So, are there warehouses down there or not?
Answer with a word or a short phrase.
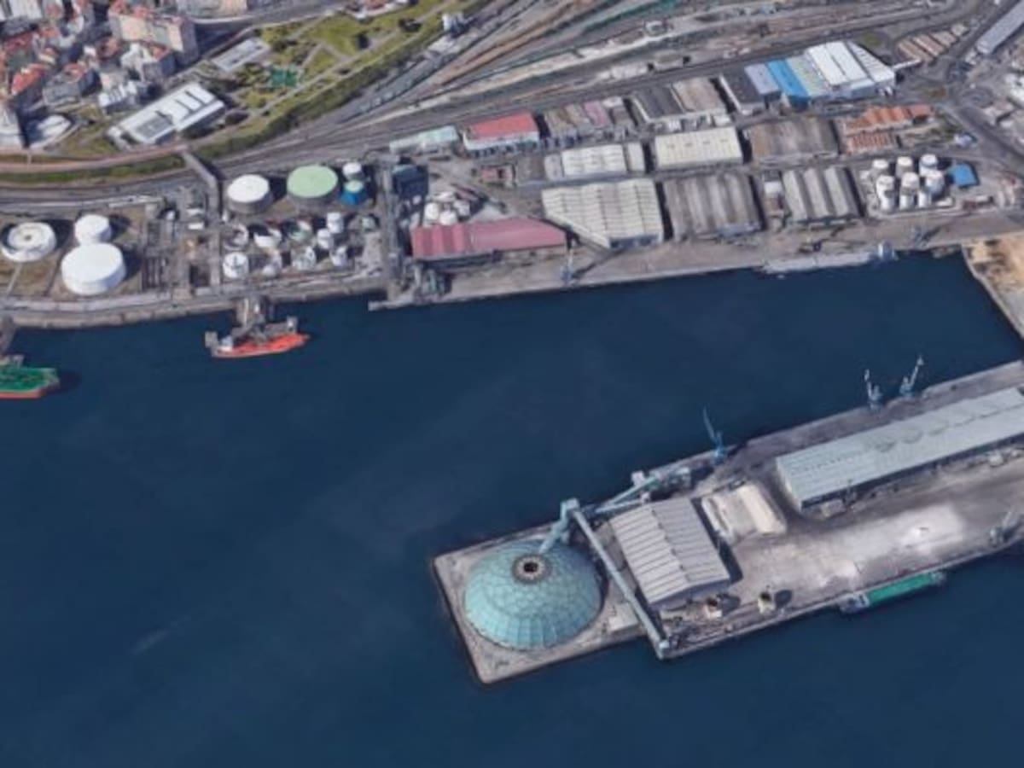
Yes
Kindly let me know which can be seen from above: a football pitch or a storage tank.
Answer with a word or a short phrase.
storage tank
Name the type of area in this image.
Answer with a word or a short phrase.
port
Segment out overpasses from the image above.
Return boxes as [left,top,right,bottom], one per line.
[177,143,219,205]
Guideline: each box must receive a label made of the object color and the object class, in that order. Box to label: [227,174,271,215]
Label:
white storage tank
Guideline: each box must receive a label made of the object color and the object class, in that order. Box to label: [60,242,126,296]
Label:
white storage tank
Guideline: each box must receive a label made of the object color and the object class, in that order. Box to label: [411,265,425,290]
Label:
gray work vehicle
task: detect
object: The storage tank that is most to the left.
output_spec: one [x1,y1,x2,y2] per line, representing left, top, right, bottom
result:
[1,221,59,268]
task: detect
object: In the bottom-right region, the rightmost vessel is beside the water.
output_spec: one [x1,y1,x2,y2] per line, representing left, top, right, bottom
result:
[839,571,947,617]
